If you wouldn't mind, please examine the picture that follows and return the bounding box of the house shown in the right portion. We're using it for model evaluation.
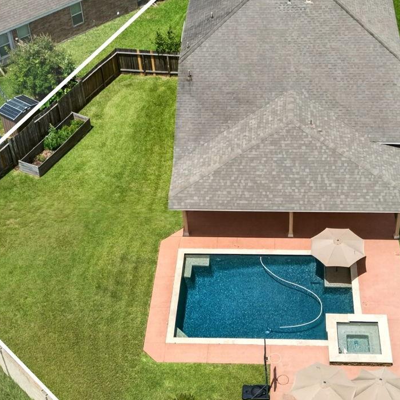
[166,0,400,236]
